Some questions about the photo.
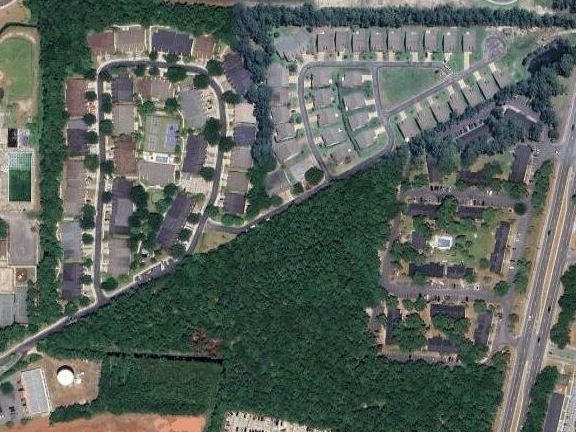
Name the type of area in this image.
residential area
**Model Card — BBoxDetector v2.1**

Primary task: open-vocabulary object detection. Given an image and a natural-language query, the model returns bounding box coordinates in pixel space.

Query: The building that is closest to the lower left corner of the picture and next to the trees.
[21,368,52,414]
